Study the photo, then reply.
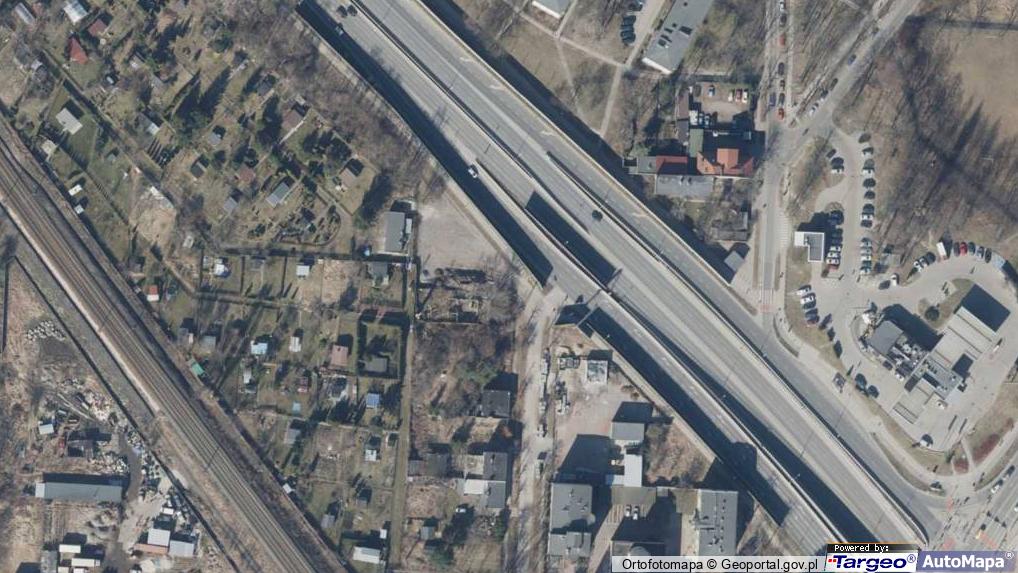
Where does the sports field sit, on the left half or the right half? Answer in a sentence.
You can find the sports field on the right side of the picture.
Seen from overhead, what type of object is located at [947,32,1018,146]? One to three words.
sports field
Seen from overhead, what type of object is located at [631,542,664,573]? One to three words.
building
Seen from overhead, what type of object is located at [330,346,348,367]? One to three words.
house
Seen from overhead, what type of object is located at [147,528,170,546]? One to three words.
shed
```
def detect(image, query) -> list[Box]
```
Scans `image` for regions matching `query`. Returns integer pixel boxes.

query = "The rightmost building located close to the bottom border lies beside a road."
[694,491,738,573]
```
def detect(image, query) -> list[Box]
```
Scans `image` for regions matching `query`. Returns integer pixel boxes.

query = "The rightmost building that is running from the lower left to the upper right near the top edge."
[642,0,714,74]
